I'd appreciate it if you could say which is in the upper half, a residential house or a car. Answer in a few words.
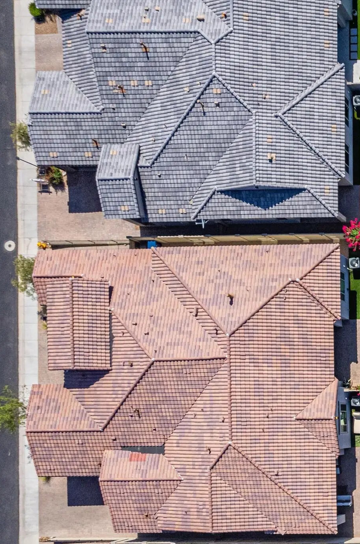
residential house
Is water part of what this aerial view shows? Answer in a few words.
No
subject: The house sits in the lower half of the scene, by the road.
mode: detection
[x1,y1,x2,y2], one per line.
[24,242,348,535]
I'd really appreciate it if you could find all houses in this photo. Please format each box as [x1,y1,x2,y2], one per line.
[24,242,348,535]
[27,0,352,222]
